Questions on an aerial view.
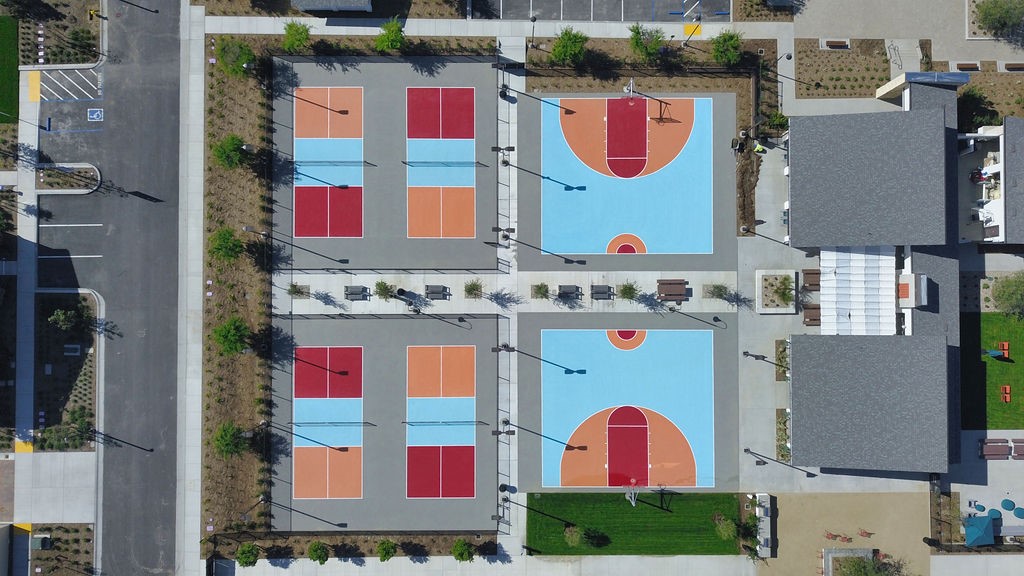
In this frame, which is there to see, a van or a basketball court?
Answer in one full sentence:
Visible in the photo is a basketball court.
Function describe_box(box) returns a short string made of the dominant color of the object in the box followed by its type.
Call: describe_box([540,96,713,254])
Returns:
blue basketball court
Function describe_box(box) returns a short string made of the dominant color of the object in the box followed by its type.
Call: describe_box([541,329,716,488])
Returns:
blue basketball court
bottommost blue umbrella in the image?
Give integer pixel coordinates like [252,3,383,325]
[959,515,996,547]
